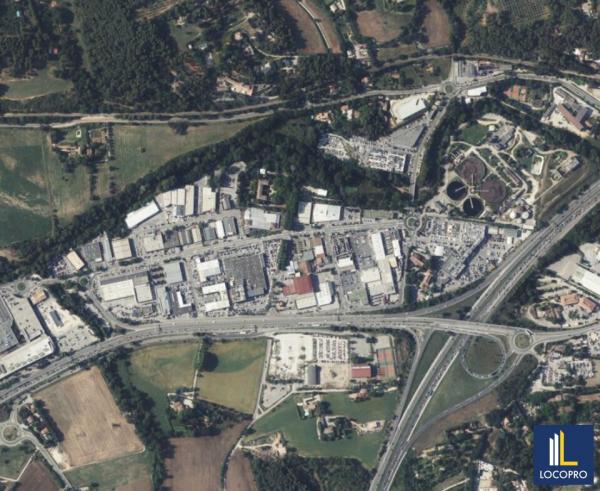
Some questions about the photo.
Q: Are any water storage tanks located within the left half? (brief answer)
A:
No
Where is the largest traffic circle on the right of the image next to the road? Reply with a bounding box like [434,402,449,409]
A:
[508,326,538,357]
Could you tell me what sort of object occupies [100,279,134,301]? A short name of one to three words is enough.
building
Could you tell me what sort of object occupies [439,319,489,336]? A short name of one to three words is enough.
overpass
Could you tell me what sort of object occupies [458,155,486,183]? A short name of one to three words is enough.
water tank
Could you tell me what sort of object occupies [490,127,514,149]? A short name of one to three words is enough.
building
